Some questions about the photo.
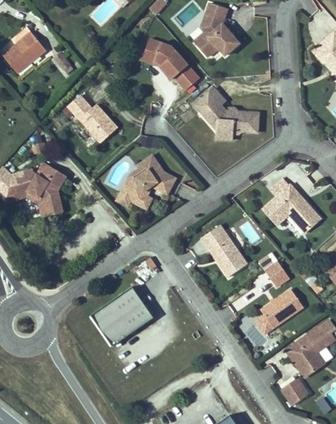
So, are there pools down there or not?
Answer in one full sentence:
Yes, you can see a pool in this photo.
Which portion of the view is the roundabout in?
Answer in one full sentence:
The roundabout is located in the bottom left region of the scene.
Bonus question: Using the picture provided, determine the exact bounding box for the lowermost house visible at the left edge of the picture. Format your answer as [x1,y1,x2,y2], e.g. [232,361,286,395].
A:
[0,163,66,217]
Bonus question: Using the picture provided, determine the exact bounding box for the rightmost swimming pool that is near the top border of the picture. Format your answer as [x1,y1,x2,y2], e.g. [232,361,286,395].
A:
[170,0,204,37]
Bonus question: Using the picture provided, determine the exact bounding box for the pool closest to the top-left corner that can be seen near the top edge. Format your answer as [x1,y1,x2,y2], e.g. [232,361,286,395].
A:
[89,0,128,26]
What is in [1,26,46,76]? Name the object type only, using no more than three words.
house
